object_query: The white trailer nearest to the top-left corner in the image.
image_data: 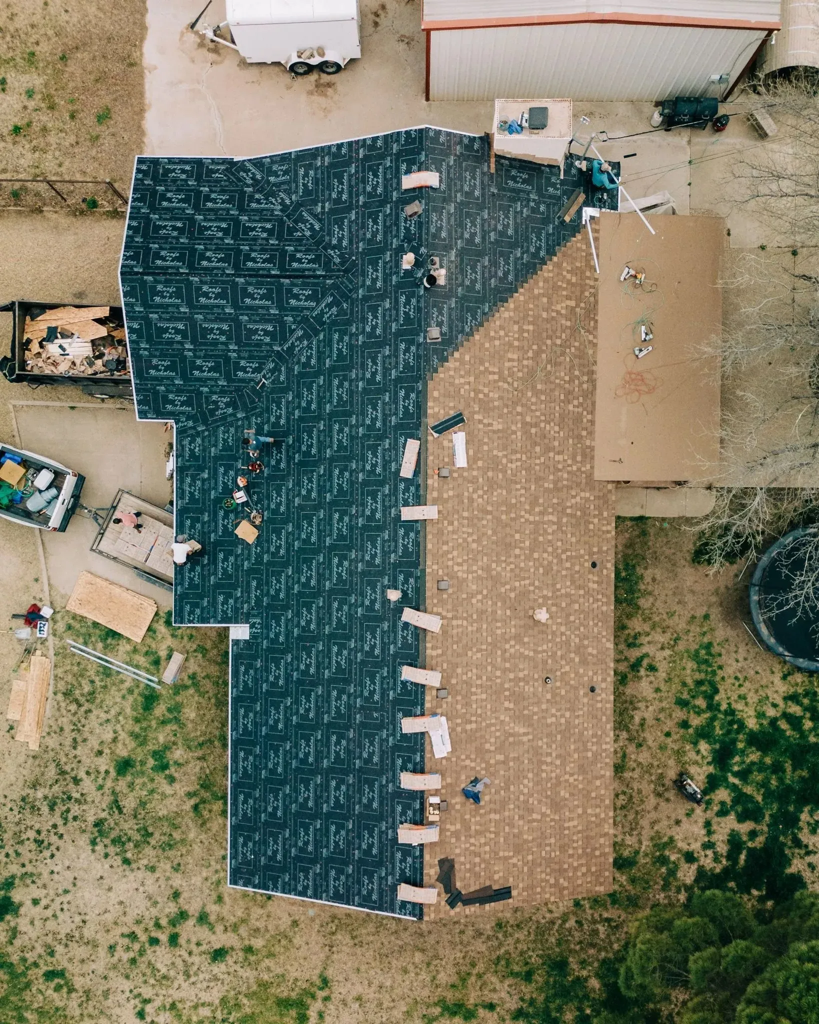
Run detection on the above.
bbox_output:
[207,0,363,74]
